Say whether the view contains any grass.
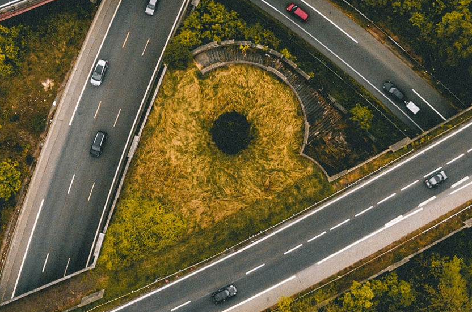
Yes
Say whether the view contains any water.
No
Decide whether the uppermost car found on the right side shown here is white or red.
red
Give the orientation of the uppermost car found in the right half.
at an angle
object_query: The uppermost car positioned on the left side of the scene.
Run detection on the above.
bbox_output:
[142,0,159,15]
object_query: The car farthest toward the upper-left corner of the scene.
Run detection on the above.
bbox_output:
[87,57,111,86]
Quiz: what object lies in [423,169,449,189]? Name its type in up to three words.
car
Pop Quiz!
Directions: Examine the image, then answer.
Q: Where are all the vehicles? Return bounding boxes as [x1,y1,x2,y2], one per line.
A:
[87,57,111,86]
[210,285,237,306]
[88,129,108,157]
[423,169,449,189]
[382,79,408,102]
[142,0,159,15]
[286,2,311,23]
